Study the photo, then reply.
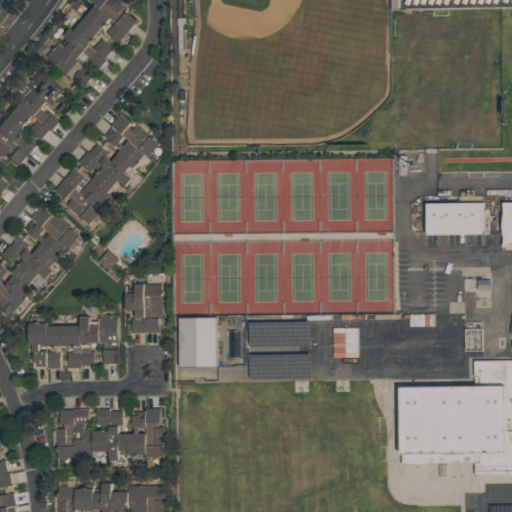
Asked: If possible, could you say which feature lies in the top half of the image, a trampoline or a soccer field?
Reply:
soccer field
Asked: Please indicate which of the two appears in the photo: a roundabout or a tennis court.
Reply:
tennis court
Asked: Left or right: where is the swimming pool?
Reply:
left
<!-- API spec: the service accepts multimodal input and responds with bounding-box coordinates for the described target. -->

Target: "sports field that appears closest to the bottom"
[180,385,465,512]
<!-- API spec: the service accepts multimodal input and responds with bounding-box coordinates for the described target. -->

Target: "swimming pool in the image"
[108,218,150,268]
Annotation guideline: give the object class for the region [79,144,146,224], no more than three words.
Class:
house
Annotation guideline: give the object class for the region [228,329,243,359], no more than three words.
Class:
greenhouse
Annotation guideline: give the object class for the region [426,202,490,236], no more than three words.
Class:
building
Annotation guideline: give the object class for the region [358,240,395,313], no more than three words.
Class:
tennis court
